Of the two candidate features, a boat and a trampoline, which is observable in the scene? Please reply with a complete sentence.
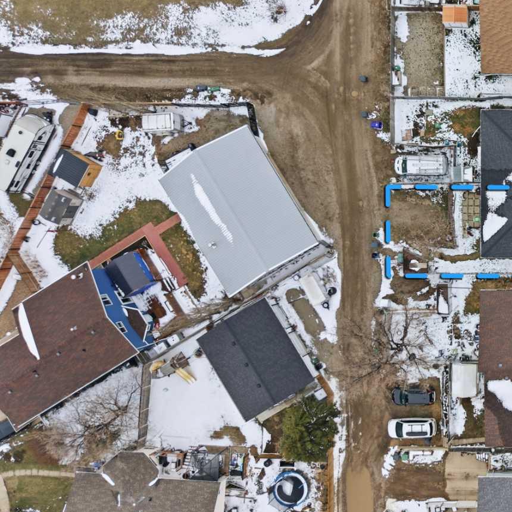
This aerial view contains a trampoline.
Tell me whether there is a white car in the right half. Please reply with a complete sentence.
Yes, in the right half there is a white car.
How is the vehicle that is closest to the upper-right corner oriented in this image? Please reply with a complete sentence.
From this overhead view, the vehicle that is closest to the upper-right corner appears to run from left to right.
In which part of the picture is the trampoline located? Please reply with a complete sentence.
The trampoline sits in the bottom section of the image.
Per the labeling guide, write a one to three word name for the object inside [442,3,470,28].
shed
